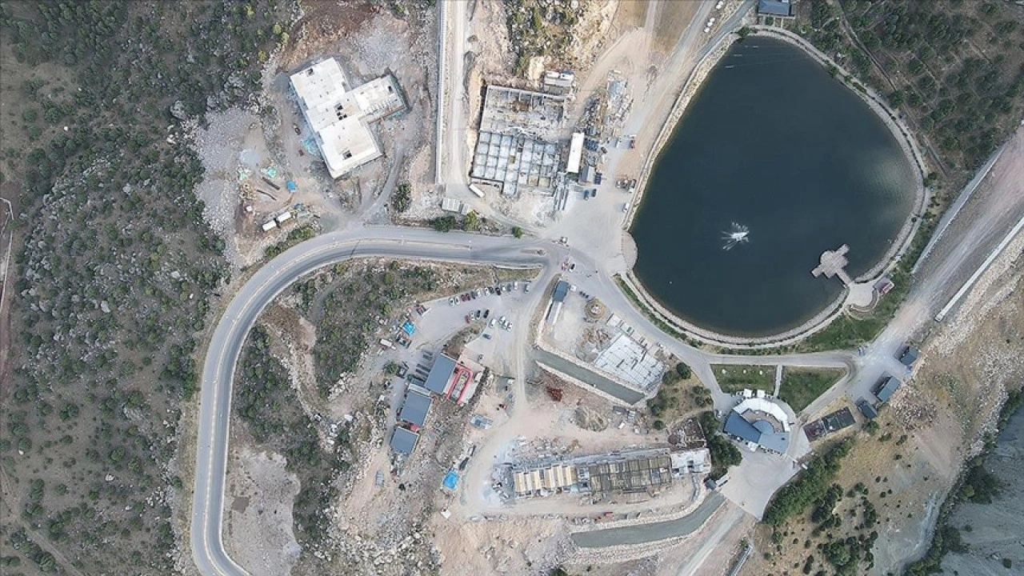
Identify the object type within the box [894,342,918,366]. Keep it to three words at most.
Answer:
building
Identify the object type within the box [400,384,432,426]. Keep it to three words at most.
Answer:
house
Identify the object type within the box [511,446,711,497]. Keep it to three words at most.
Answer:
building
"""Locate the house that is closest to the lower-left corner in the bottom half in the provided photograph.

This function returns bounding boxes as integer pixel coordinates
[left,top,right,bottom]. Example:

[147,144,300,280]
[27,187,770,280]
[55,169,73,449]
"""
[389,427,419,454]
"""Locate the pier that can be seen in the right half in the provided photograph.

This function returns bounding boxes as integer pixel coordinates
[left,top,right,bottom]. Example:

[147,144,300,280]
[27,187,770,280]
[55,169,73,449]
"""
[811,244,853,287]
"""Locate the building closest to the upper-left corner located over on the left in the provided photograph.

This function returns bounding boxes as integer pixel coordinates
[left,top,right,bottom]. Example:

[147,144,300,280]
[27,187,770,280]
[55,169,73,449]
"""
[290,58,409,178]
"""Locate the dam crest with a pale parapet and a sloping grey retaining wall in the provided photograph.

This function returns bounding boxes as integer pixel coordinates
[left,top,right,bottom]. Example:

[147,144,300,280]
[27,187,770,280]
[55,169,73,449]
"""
[914,134,1024,324]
